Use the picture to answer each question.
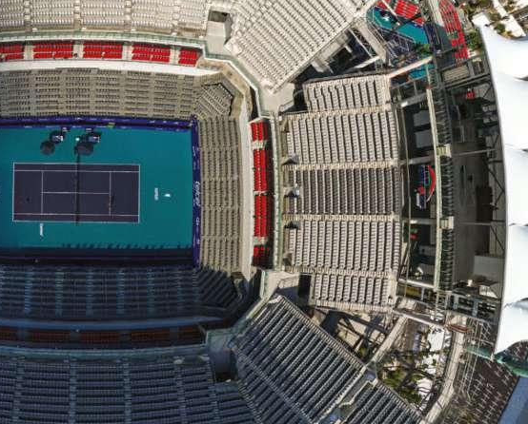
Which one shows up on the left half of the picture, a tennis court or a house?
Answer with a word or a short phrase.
tennis court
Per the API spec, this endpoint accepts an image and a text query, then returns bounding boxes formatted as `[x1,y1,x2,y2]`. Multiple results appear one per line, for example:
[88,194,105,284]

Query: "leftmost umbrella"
[39,140,54,154]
